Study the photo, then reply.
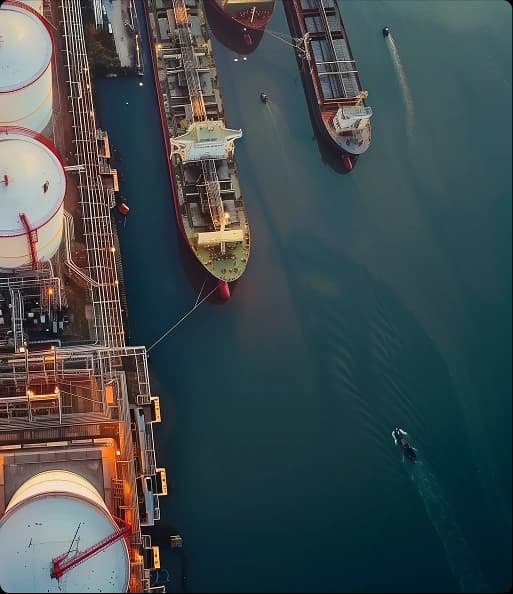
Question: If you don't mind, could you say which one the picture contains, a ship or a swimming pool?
ship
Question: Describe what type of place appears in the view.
industrial area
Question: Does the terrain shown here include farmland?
No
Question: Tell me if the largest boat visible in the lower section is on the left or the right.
right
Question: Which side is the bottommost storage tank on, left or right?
left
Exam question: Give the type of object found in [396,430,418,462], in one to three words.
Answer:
boat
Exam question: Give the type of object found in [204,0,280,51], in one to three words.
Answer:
ship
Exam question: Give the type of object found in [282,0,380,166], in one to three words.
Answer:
ship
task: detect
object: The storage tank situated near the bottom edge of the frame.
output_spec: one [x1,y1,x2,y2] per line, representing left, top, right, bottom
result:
[0,470,134,594]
